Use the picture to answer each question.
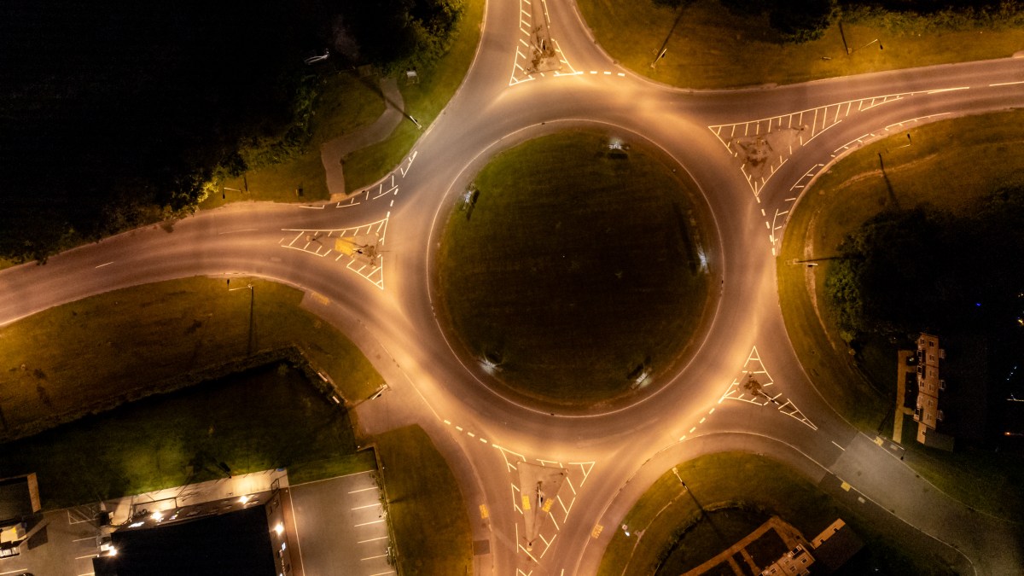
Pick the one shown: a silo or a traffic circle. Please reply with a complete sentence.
Of the two, only a traffic circle appears.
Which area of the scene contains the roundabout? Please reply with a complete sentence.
You can find the roundabout in the center area of the picture.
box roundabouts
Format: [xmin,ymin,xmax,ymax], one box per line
[379,72,771,464]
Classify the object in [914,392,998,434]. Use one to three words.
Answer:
house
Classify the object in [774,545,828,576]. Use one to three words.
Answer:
house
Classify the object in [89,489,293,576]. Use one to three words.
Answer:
building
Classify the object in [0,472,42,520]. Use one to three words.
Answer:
building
